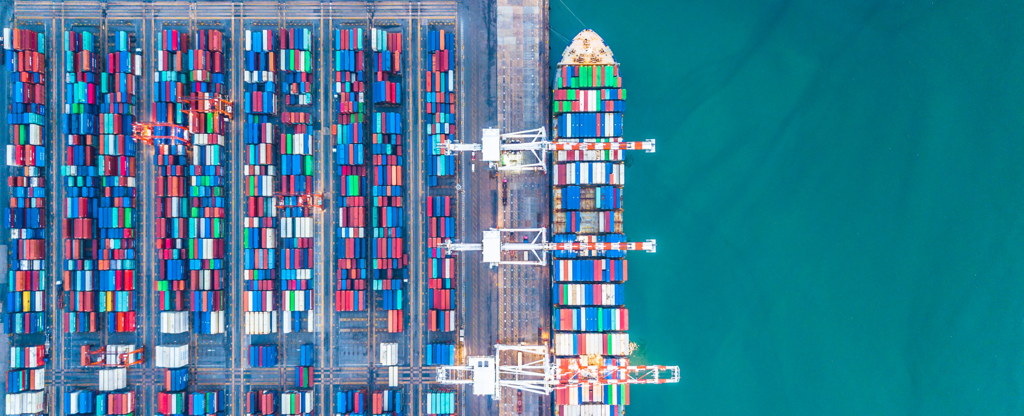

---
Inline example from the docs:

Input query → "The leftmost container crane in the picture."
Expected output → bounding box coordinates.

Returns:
[84,344,145,368]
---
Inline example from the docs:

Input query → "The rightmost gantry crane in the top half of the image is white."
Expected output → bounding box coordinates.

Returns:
[435,125,655,175]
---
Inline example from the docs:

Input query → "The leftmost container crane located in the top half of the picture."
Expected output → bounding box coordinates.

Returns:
[132,121,191,146]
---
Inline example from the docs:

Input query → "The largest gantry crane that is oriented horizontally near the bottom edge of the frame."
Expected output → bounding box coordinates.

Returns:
[433,338,679,407]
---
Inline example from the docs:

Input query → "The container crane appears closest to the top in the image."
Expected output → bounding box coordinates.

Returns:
[177,95,234,121]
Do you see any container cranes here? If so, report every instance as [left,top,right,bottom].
[84,344,145,368]
[132,121,191,146]
[436,225,655,268]
[435,125,655,175]
[433,338,679,407]
[272,190,322,212]
[177,95,234,121]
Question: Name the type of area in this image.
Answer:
port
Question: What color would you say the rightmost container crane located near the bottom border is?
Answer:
white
